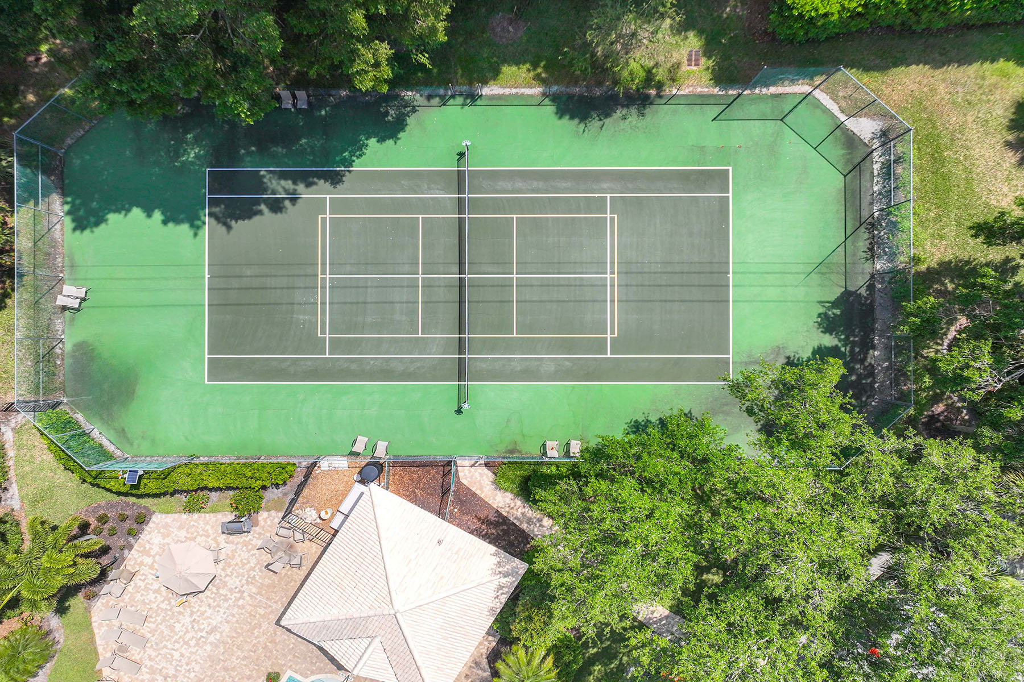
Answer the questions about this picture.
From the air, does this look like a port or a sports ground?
sports ground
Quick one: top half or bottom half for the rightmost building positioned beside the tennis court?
bottom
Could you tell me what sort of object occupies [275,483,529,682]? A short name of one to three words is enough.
building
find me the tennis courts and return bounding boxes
[64,93,875,457]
